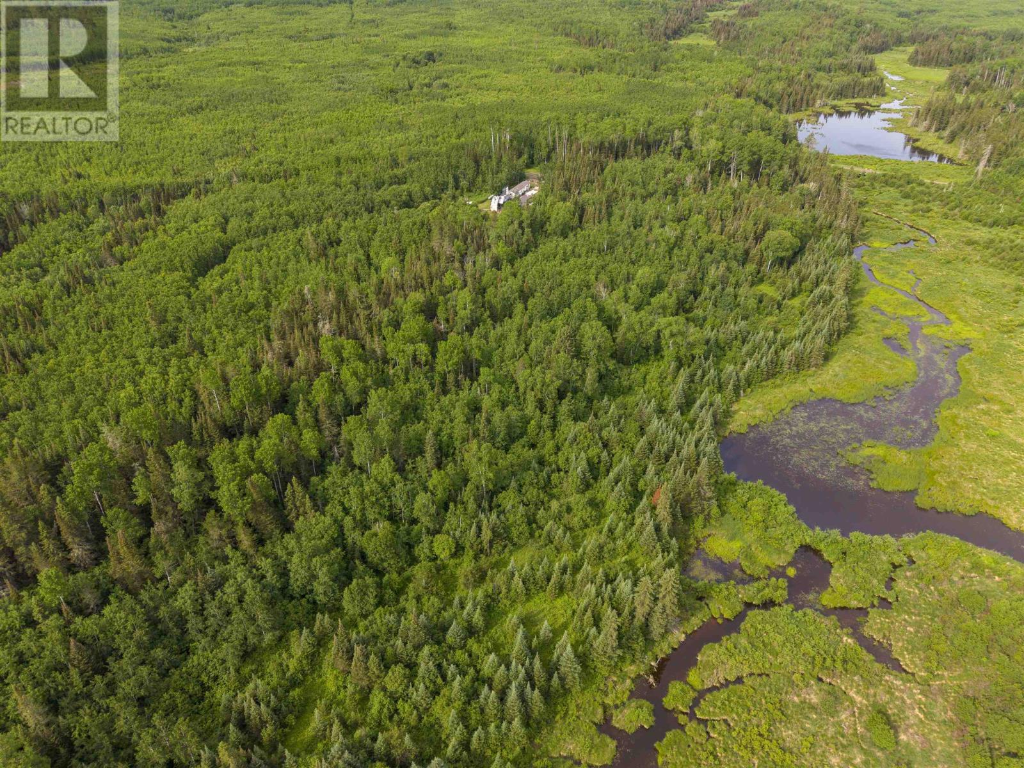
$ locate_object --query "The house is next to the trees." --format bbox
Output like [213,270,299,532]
[497,177,537,210]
